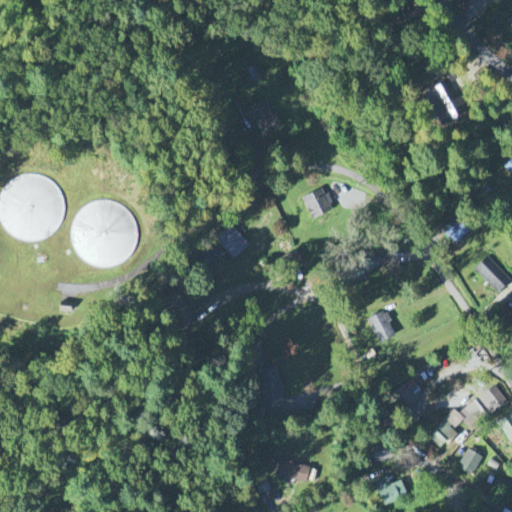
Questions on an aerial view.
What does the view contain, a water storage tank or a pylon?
water storage tank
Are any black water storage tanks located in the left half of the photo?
No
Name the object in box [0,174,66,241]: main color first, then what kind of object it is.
white water tank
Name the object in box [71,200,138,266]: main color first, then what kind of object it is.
white water tank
